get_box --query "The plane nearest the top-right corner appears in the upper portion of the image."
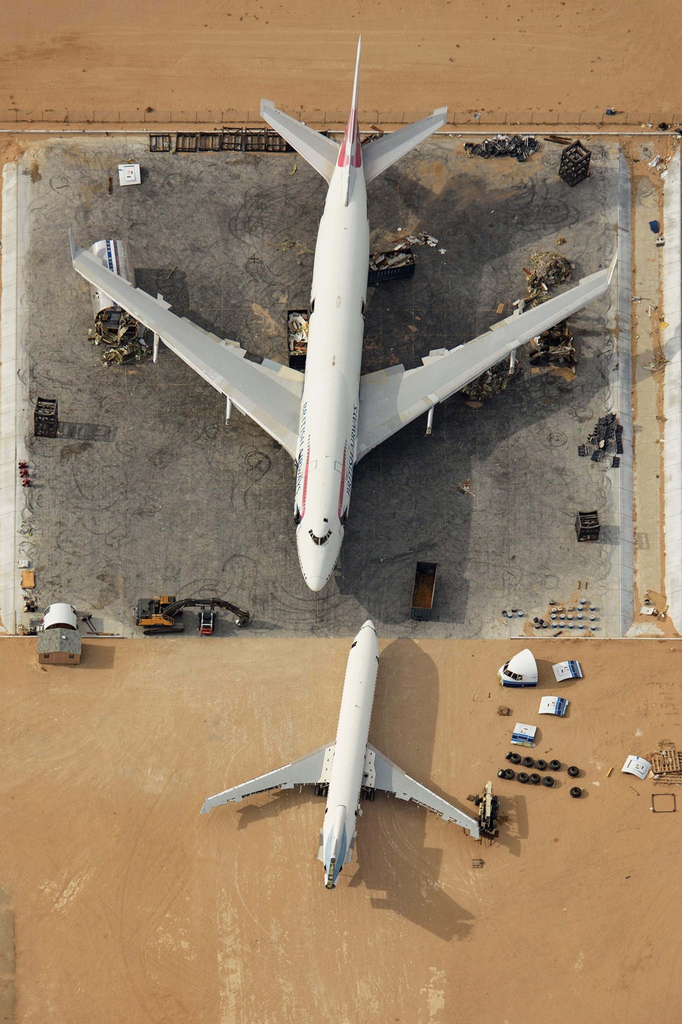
[69,38,618,590]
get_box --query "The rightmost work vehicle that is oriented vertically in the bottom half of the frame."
[475,781,500,845]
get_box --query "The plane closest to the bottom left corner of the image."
[196,620,485,892]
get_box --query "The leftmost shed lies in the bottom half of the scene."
[37,624,82,664]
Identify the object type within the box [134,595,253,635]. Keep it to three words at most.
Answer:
work vehicle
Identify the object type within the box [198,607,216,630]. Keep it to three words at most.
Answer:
work vehicle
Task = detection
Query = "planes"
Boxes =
[69,38,618,590]
[196,620,485,892]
